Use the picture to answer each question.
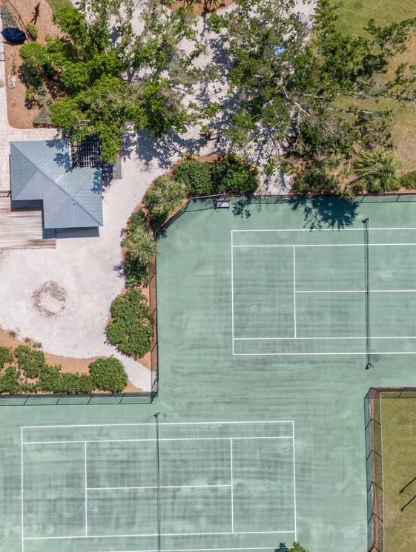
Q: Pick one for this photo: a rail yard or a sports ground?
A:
sports ground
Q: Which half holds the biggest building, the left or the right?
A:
left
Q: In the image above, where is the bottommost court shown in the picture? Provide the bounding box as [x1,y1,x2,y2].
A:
[0,387,375,552]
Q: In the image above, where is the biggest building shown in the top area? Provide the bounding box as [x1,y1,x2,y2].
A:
[9,140,103,226]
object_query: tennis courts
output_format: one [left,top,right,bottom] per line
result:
[0,387,375,552]
[156,193,416,392]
